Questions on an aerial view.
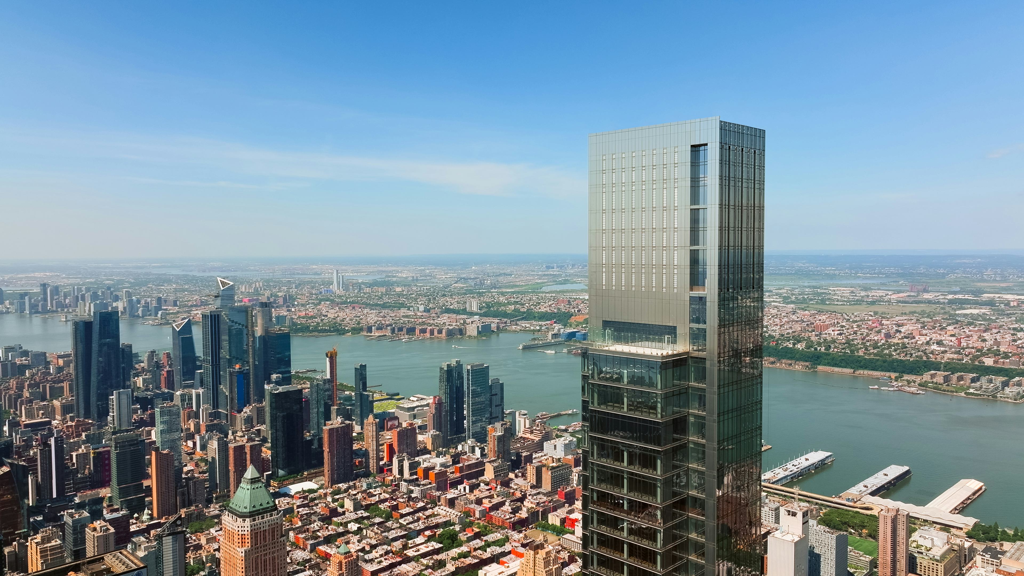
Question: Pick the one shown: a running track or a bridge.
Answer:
bridge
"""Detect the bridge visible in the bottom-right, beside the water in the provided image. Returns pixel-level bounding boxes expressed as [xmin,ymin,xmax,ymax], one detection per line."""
[760,481,883,516]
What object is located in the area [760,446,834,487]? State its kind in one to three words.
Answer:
pier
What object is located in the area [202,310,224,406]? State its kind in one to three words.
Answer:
building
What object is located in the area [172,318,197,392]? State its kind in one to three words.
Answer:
building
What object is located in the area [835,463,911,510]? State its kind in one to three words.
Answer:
pier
